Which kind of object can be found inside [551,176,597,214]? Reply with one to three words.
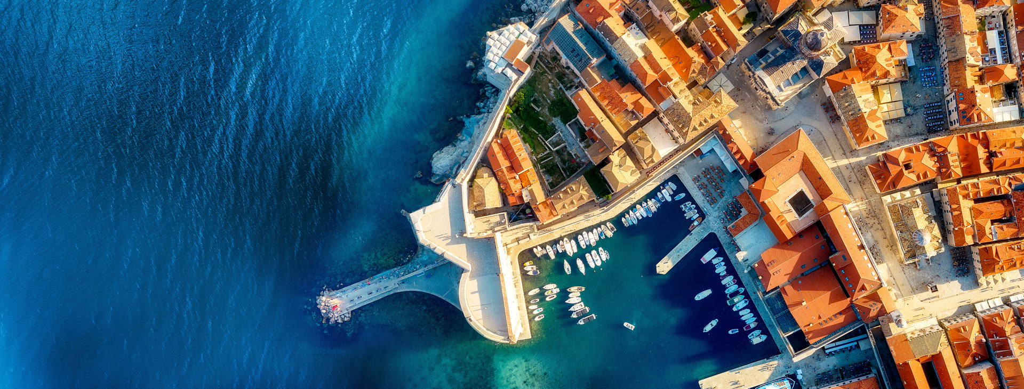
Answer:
house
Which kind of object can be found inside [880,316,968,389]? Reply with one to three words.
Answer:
building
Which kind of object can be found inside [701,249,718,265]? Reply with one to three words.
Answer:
boat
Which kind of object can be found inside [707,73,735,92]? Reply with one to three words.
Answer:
umbrella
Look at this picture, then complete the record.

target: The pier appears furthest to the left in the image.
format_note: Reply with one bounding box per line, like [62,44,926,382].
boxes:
[330,250,463,315]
